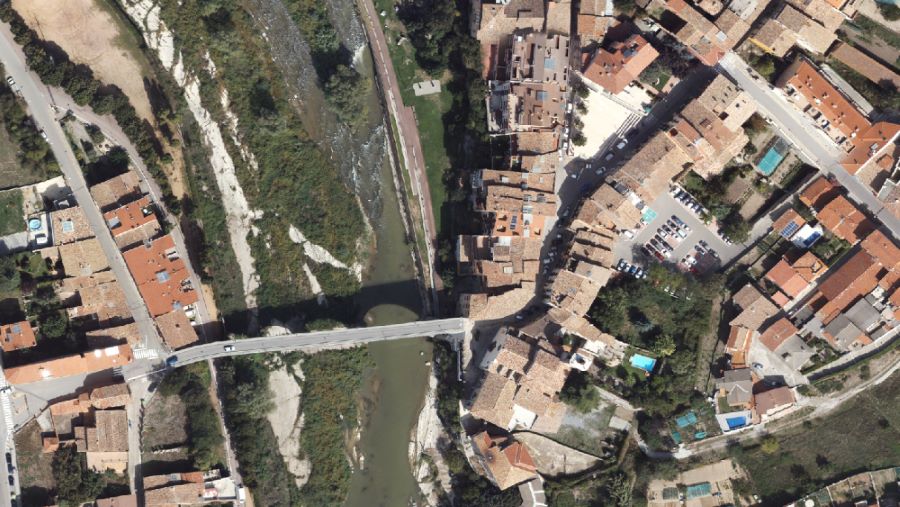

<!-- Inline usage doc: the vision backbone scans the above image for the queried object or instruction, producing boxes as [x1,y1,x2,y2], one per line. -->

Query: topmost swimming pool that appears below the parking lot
[628,353,657,373]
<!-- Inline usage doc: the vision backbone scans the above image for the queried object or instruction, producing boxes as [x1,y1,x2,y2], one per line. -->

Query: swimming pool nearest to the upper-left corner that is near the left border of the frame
[28,213,49,245]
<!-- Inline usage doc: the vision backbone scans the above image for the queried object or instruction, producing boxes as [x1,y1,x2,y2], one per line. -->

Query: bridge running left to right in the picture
[195,316,467,362]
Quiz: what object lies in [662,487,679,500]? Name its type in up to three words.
swimming pool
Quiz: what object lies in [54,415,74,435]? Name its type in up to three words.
shed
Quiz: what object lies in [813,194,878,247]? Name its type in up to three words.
house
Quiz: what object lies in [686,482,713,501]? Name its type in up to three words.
swimming pool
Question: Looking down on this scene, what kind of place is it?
residential area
